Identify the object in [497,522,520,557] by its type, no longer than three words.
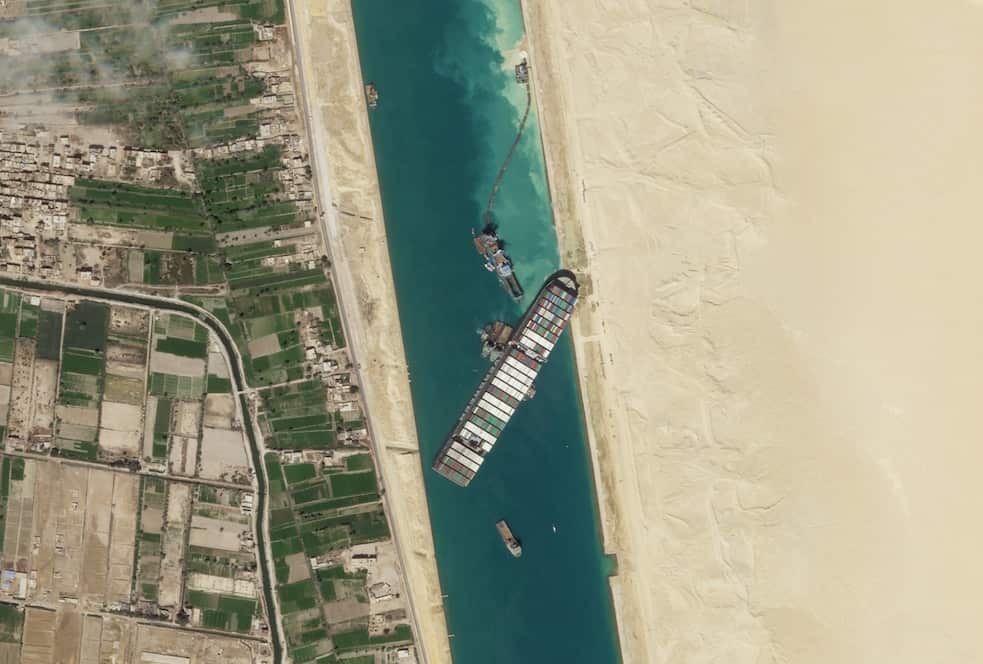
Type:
ship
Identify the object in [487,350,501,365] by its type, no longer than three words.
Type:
boat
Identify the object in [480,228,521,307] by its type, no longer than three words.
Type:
ship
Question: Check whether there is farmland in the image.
Yes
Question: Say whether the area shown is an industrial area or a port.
port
